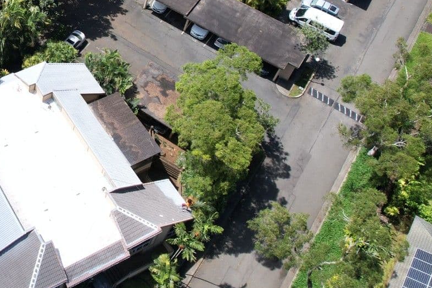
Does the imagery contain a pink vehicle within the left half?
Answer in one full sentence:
No, no pink vehicle appears within the left half.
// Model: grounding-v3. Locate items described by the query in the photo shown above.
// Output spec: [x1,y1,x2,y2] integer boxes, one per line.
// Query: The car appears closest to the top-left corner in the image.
[62,23,93,56]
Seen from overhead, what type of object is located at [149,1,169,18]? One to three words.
car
